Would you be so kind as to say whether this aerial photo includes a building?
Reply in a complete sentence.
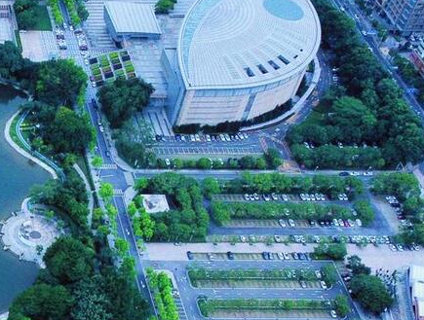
Yes, a building appears in the view.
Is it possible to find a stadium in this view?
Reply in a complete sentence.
No, the picture doesn't show any stadium.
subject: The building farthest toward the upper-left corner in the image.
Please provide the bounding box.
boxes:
[104,0,162,48]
